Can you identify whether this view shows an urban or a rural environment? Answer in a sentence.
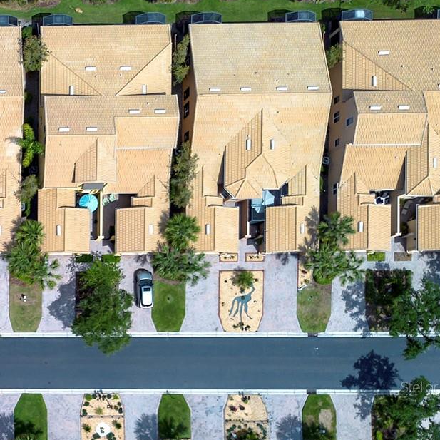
From above, the setting appears urban.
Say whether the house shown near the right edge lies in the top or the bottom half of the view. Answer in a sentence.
The house shown near the right edge sits in the top half of the picture.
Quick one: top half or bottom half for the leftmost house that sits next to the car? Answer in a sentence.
It is in the top half that the leftmost house that sits next to the car appears.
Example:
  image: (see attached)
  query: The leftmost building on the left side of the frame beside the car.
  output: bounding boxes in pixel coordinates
[39,12,180,255]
